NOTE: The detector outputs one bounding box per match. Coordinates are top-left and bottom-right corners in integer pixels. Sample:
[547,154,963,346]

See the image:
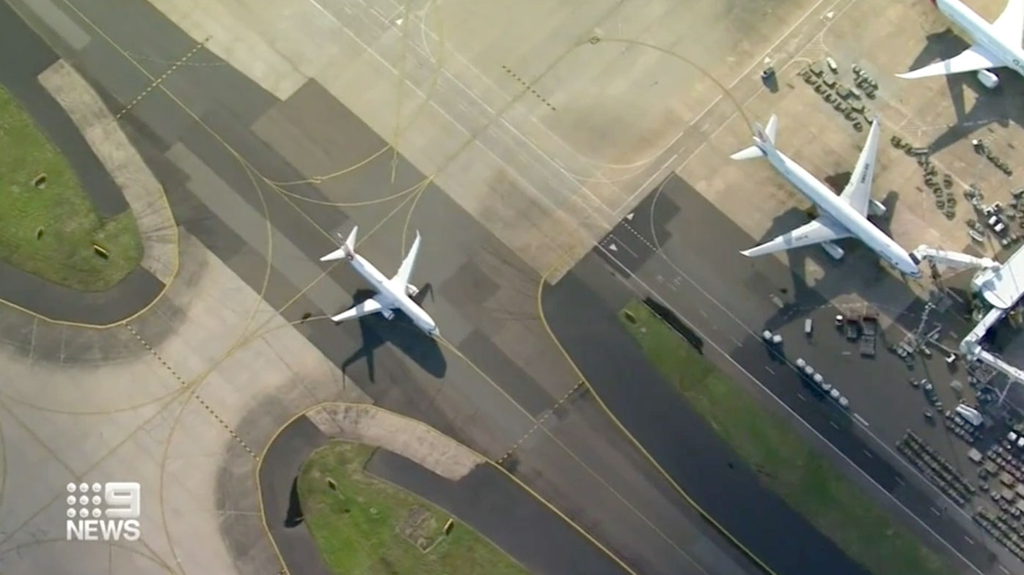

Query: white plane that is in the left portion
[320,226,439,337]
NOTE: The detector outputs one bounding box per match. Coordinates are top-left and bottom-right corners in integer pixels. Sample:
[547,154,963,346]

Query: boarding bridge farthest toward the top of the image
[907,244,1001,294]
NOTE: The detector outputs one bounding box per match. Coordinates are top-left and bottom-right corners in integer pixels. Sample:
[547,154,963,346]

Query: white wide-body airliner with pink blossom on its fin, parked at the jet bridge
[731,115,921,277]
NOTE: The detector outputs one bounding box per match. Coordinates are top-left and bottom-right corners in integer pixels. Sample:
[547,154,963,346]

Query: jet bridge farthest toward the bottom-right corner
[959,304,1024,391]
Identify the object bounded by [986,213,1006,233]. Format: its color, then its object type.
white vehicle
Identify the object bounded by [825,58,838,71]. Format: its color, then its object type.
white vehicle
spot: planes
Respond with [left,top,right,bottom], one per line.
[896,0,1024,90]
[320,226,439,337]
[731,115,921,277]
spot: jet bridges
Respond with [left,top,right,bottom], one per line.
[907,244,1001,294]
[959,304,1024,391]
